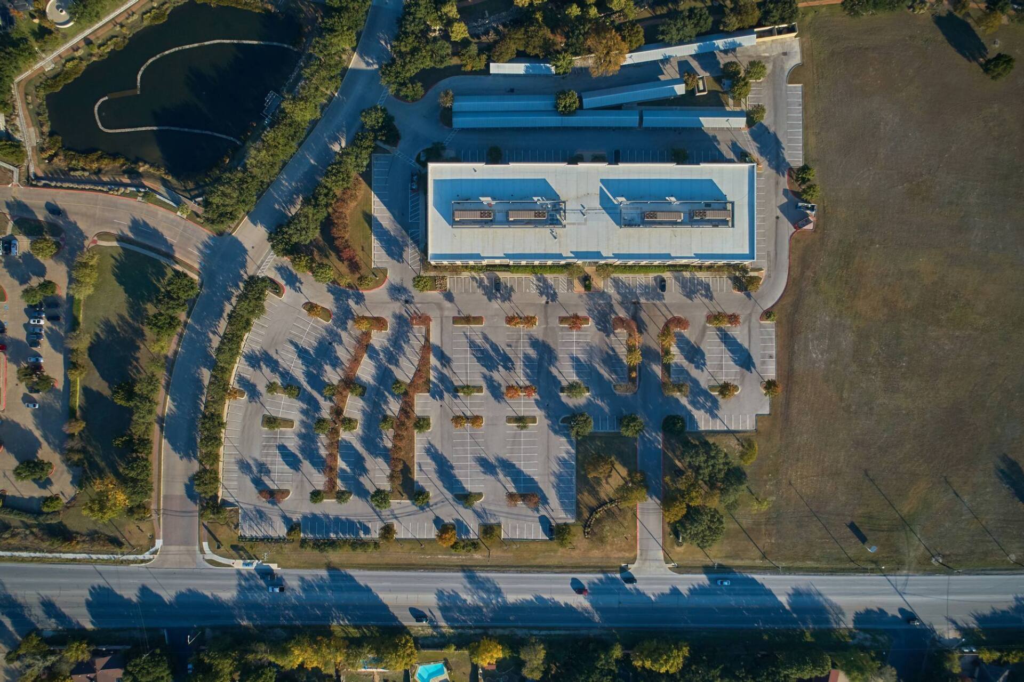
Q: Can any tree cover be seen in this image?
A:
Yes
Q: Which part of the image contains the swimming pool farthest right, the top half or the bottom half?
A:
bottom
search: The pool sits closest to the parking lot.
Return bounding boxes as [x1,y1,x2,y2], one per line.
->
[413,657,451,682]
